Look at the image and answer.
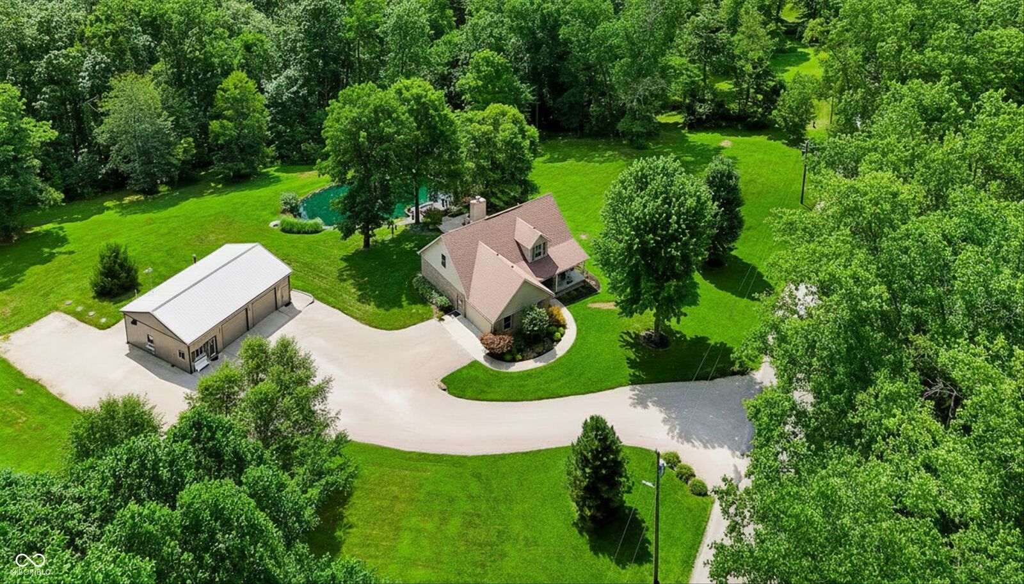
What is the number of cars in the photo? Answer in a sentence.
No cars are visible.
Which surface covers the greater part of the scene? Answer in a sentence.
The bulk of the photo consists of trees.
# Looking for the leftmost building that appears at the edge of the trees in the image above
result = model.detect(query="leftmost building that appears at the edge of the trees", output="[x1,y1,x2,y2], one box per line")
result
[119,242,293,374]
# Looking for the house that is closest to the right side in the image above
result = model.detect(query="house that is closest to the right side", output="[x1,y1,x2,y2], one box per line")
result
[416,193,591,336]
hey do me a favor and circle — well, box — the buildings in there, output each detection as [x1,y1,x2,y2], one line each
[119,242,293,374]
[416,193,591,336]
